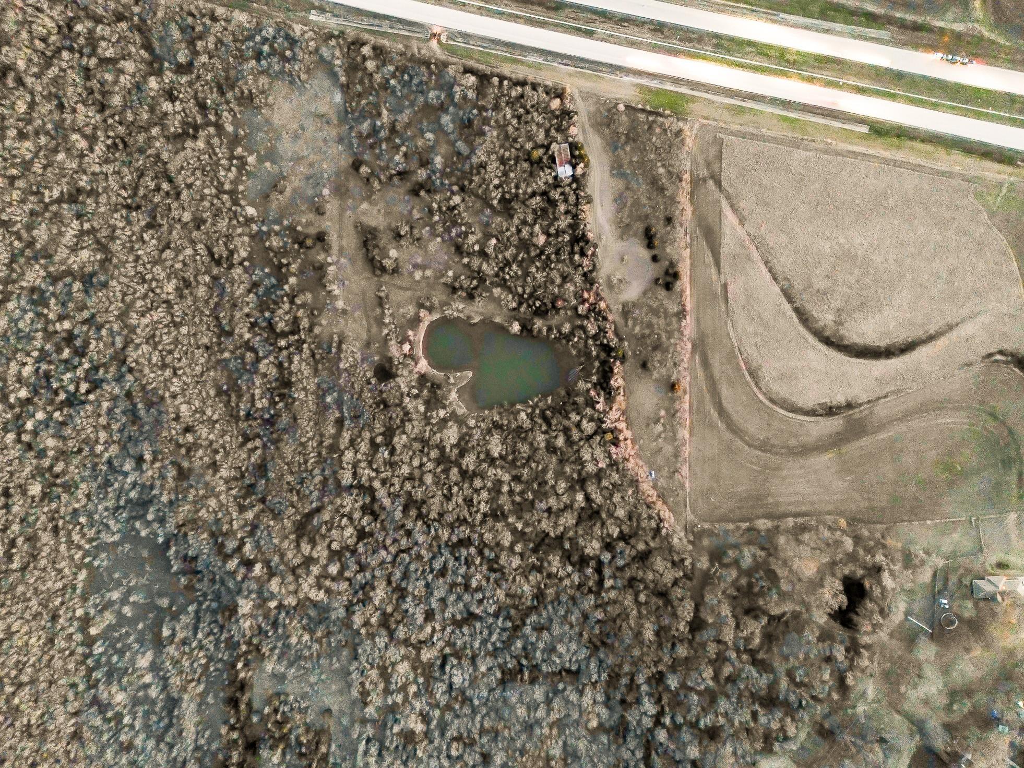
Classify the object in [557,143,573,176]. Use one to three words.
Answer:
barn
